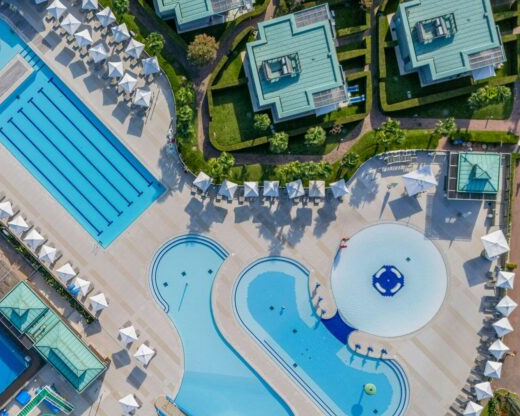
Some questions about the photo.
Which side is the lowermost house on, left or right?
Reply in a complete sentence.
The lowermost house sits on the left side.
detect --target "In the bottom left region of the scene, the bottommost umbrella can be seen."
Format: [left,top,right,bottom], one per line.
[119,394,140,413]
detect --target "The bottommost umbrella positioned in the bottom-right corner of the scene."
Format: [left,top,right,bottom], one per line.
[463,400,484,416]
